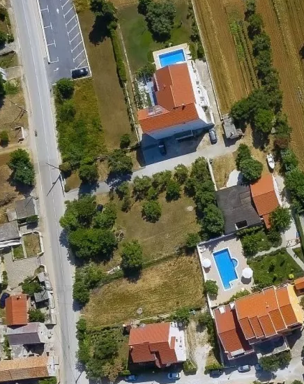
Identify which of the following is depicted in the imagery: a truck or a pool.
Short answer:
pool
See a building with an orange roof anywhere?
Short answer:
Yes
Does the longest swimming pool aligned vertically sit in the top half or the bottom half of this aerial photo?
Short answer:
bottom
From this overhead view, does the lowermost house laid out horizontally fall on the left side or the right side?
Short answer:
left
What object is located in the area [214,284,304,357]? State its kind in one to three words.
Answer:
building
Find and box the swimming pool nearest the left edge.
[154,45,190,69]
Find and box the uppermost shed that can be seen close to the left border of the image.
[8,197,43,221]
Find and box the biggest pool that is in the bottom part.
[212,247,239,292]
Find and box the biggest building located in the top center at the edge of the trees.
[137,65,218,140]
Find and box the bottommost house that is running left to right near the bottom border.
[0,356,59,382]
